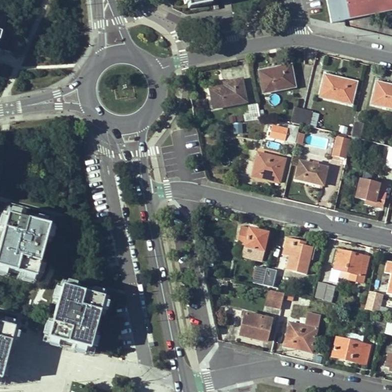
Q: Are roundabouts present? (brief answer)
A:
Yes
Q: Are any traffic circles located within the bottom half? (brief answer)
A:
No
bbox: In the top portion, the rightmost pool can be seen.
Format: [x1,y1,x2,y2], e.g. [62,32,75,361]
[305,134,328,150]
